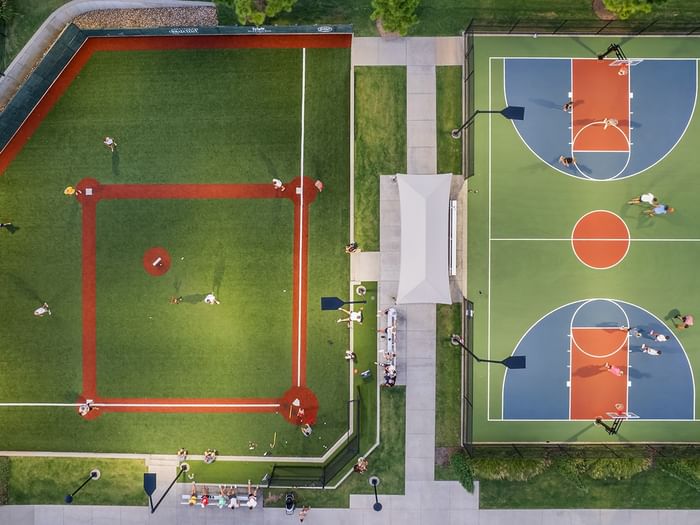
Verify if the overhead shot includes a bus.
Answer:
No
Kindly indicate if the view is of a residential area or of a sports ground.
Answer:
sports ground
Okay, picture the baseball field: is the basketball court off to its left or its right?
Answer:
on its right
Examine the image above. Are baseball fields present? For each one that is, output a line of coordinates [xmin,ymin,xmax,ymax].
[0,36,378,485]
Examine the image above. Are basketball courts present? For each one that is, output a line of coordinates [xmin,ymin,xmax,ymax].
[464,36,700,444]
